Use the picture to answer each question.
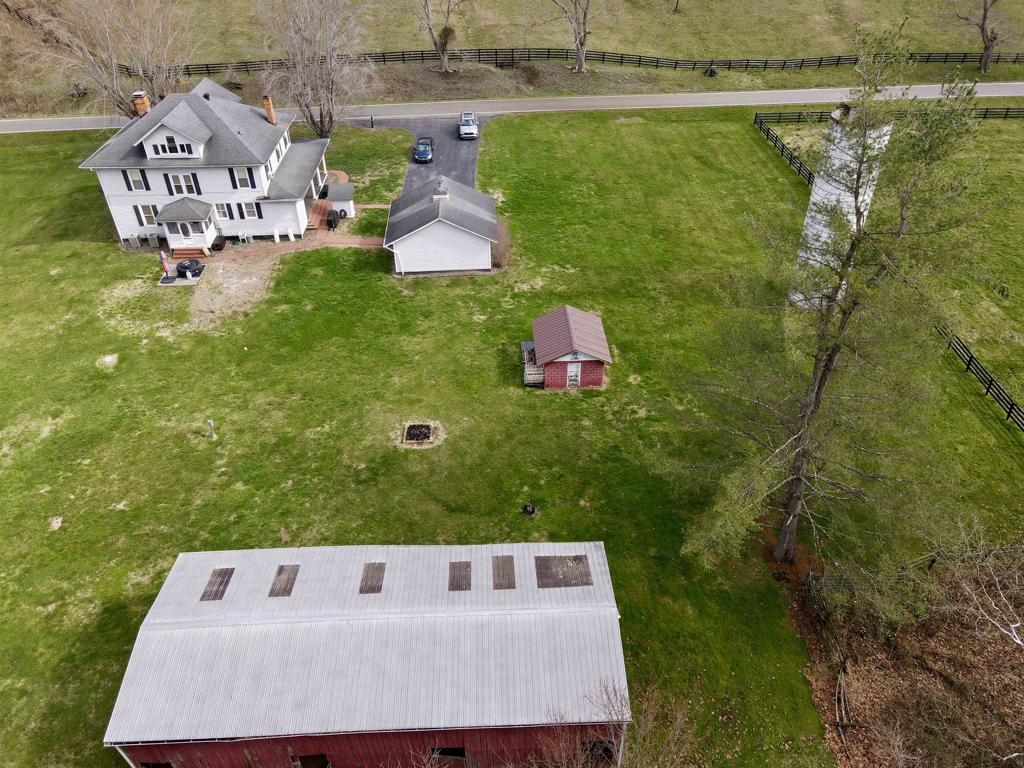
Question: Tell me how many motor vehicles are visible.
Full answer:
In total, there are 2 motor vehicles in the scene.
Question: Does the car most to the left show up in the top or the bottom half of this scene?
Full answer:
You can find the car most to the left in the top half.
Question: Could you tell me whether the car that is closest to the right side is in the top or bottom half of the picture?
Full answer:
The car that is closest to the right side sits in the top half of the picture.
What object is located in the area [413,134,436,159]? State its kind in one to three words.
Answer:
car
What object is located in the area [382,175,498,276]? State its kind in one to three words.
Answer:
building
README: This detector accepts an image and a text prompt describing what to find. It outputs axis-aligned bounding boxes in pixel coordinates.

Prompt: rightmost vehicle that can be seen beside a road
[457,106,480,135]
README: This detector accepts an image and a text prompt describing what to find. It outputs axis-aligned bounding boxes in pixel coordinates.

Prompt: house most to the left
[80,77,334,253]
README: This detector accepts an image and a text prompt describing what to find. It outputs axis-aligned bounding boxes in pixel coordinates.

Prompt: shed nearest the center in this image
[532,304,613,389]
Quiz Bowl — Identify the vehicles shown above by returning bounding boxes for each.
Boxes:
[413,134,436,159]
[457,106,480,135]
